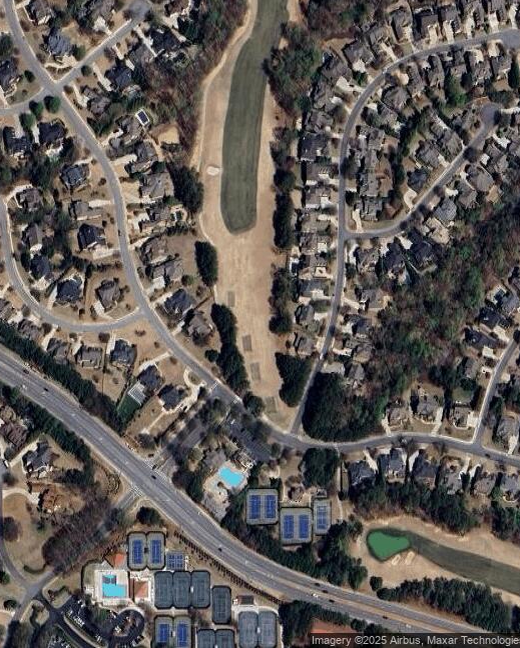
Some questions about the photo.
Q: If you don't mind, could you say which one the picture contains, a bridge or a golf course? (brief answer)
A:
golf course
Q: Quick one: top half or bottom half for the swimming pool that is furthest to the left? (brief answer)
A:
bottom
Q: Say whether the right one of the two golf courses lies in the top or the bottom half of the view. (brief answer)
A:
bottom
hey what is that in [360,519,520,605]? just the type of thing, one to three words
golf course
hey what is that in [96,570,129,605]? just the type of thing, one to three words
swimming pool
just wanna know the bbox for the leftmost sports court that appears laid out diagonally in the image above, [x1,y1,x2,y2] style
[118,387,147,422]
